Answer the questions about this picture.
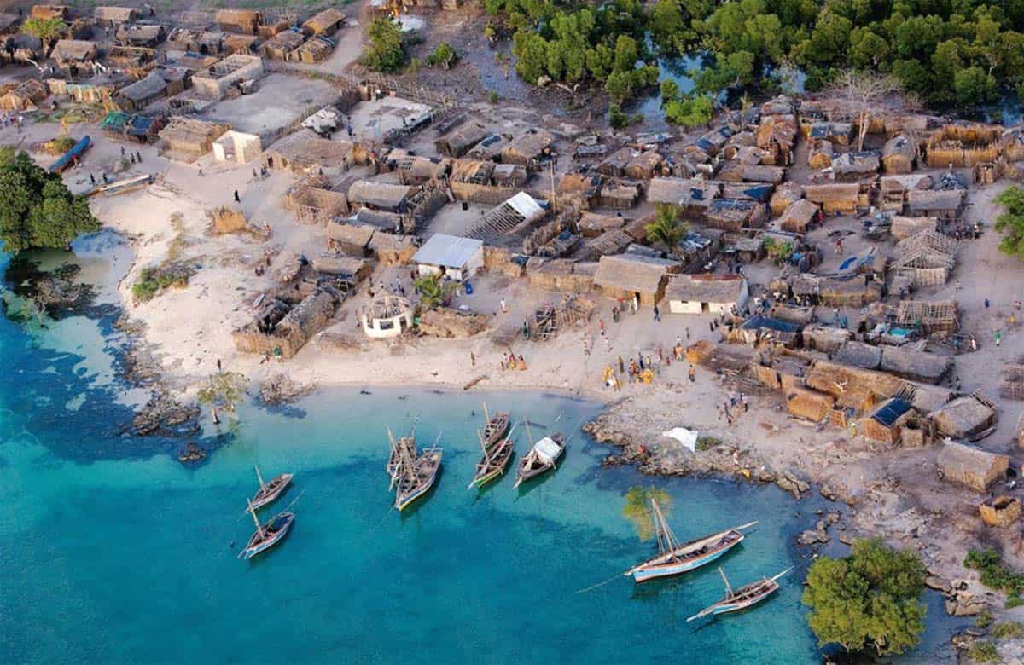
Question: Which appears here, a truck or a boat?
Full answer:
There is a boat in the scene.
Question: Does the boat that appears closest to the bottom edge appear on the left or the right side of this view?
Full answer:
It is on the right.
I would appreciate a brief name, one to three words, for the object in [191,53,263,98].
house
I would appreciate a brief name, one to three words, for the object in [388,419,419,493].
boat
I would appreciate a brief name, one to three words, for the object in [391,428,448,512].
boat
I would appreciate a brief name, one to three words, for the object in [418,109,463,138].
shed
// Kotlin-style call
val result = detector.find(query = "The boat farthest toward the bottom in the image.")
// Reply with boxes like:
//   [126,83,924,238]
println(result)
[687,568,792,621]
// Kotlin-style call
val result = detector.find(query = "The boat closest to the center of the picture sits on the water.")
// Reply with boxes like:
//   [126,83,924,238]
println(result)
[484,403,512,452]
